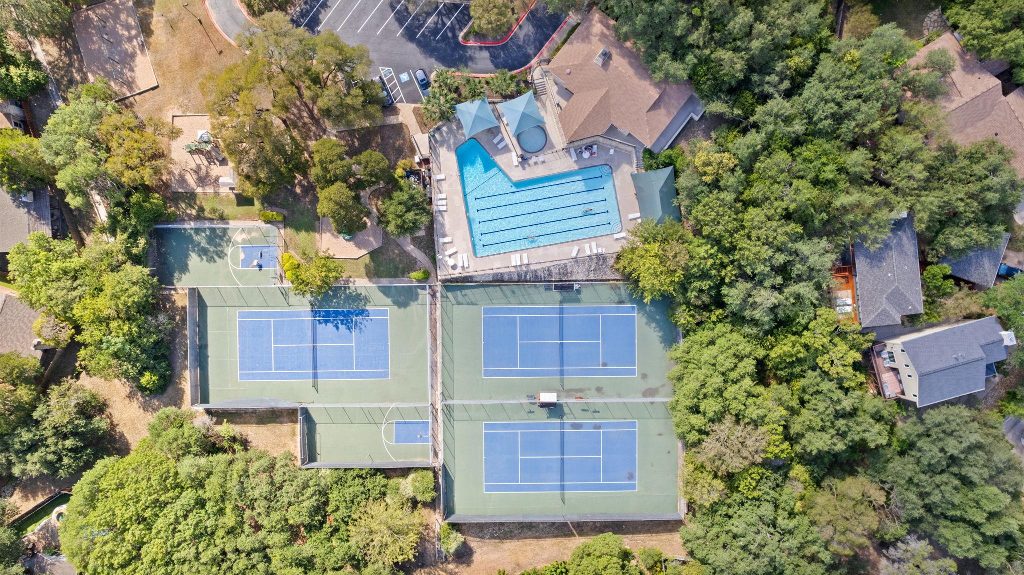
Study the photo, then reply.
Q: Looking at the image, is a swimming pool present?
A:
Yes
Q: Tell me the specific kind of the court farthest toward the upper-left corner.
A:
basketball court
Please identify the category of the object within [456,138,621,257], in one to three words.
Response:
swimming pool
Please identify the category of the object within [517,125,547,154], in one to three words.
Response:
swimming pool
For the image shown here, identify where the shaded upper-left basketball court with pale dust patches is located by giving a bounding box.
[161,226,277,286]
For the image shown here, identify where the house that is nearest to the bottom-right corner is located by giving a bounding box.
[878,315,1017,407]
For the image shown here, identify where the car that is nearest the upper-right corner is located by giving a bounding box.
[996,262,1022,278]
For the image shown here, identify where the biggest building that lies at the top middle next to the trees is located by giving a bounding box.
[547,9,693,147]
